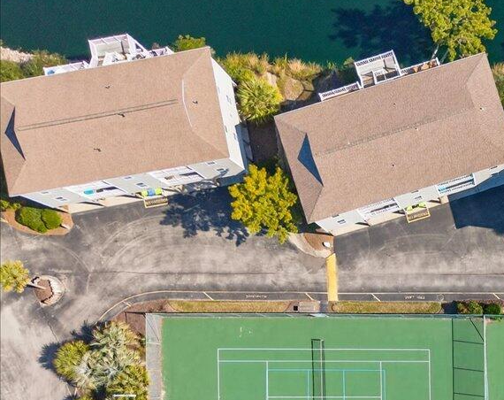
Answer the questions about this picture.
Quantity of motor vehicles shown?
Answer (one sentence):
There are no motor vehicles in this view.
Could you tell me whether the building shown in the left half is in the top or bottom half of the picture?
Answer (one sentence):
The building shown in the left half is in the top half of the image.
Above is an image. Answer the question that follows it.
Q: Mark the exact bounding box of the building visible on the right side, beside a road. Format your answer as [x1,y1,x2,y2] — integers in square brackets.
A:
[275,52,504,236]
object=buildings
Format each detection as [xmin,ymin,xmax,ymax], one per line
[275,52,504,236]
[0,36,258,212]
